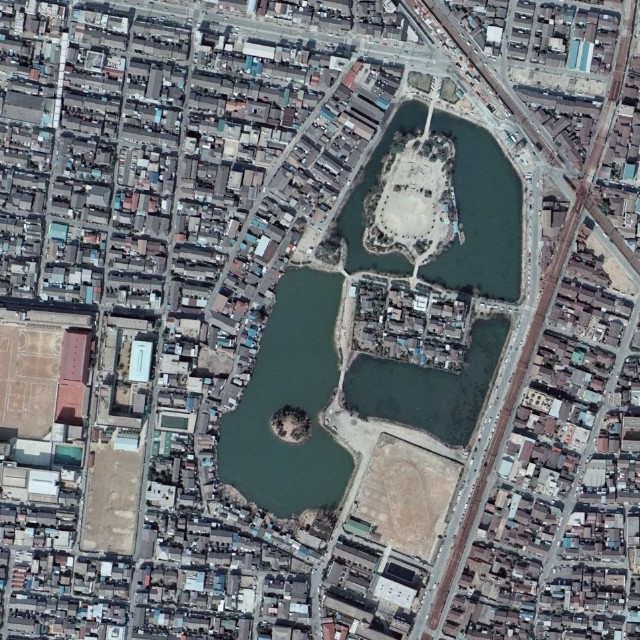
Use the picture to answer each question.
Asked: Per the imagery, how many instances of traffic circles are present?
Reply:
zero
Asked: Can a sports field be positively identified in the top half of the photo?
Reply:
No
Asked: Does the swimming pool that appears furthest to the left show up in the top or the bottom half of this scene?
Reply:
bottom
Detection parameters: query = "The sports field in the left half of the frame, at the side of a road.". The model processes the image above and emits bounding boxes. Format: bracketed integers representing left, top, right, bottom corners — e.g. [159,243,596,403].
[81,438,143,553]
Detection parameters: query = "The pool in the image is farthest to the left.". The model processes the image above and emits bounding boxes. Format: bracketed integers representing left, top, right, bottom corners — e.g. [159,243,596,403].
[52,442,84,468]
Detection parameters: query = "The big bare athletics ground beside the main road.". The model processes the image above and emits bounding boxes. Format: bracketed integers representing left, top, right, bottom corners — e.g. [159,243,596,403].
[351,433,463,562]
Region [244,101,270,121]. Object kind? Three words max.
house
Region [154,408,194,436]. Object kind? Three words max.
swimming pool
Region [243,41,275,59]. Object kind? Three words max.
shed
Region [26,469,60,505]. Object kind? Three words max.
building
